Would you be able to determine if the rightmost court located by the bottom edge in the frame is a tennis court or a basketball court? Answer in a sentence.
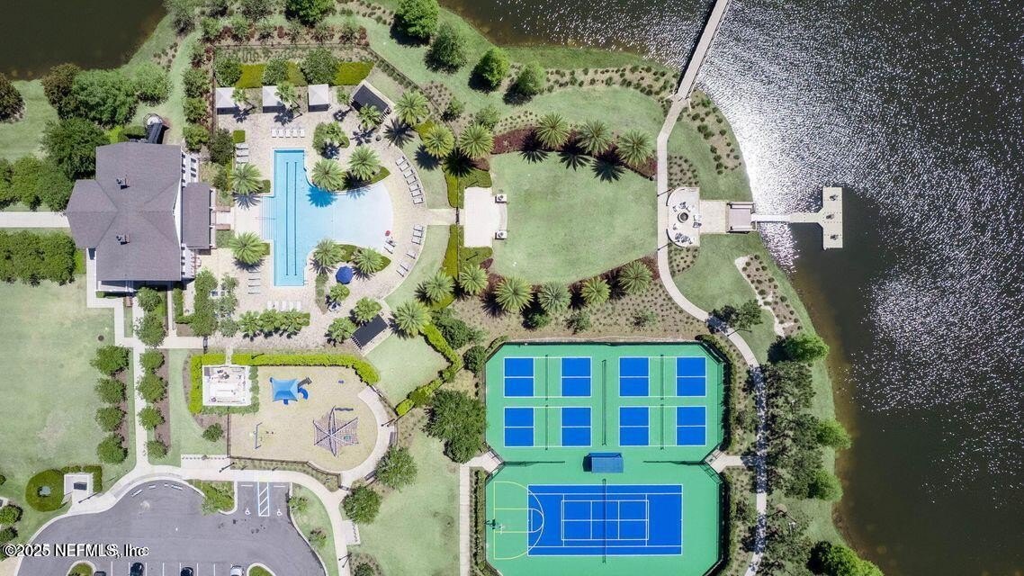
It turns out the rightmost court located by the bottom edge is a tennis court.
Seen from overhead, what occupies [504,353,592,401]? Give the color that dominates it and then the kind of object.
blue sports court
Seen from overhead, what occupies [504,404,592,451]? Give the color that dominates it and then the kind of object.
blue sports court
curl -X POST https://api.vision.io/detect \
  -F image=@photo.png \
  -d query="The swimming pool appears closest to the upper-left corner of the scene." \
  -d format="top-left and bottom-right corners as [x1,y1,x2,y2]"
[256,147,395,288]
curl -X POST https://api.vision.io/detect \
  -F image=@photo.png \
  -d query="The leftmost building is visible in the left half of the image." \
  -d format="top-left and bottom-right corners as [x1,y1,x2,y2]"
[66,142,223,293]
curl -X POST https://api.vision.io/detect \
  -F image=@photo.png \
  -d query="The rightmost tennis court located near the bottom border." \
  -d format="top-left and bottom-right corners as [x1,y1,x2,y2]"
[528,478,682,565]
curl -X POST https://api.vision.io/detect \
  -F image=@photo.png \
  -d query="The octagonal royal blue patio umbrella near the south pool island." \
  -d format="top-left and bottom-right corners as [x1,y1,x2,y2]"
[336,266,353,283]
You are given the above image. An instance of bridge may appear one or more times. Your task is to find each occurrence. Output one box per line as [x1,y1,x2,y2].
[674,0,735,97]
